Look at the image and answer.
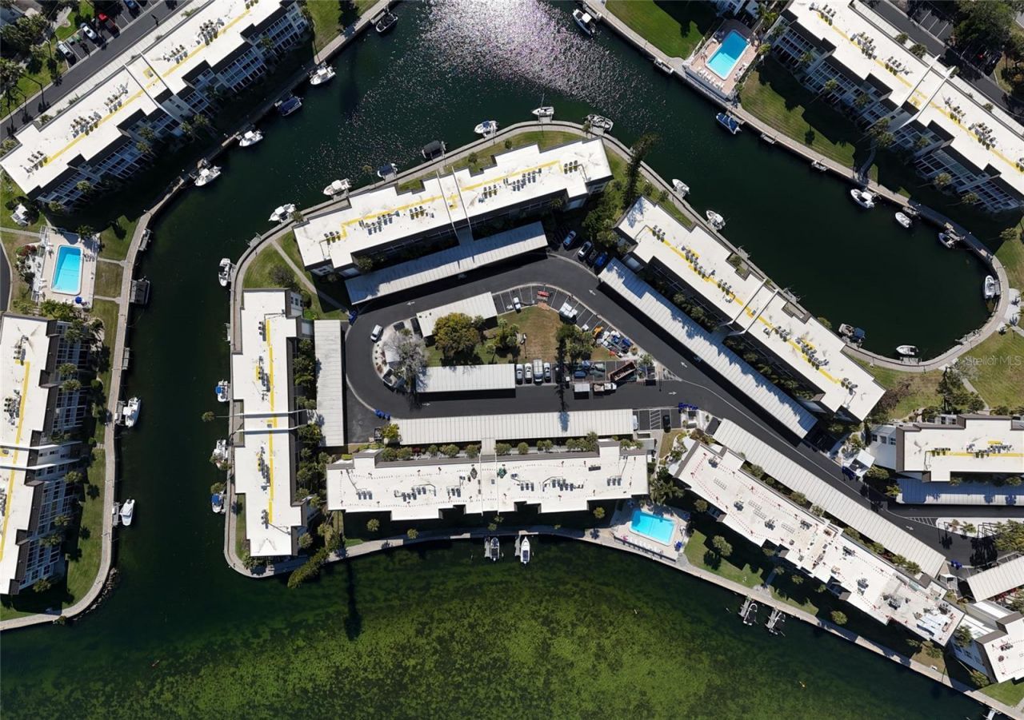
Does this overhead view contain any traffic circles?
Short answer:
No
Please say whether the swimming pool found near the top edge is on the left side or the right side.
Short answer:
right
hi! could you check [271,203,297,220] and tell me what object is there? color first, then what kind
white boat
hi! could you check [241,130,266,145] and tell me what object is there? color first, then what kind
white boat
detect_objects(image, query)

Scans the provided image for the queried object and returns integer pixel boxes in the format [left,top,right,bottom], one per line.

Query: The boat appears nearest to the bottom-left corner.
[124,498,136,524]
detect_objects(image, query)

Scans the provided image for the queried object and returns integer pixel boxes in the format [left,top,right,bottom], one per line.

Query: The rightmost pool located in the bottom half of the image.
[609,498,687,560]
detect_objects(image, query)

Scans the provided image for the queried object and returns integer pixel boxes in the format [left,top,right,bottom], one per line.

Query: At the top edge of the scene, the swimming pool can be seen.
[691,19,757,94]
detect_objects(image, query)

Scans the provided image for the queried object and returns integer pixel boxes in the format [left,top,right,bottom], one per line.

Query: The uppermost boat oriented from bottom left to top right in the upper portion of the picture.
[378,13,400,32]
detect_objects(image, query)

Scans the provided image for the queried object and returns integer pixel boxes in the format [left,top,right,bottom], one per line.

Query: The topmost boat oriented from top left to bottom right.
[574,10,596,37]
